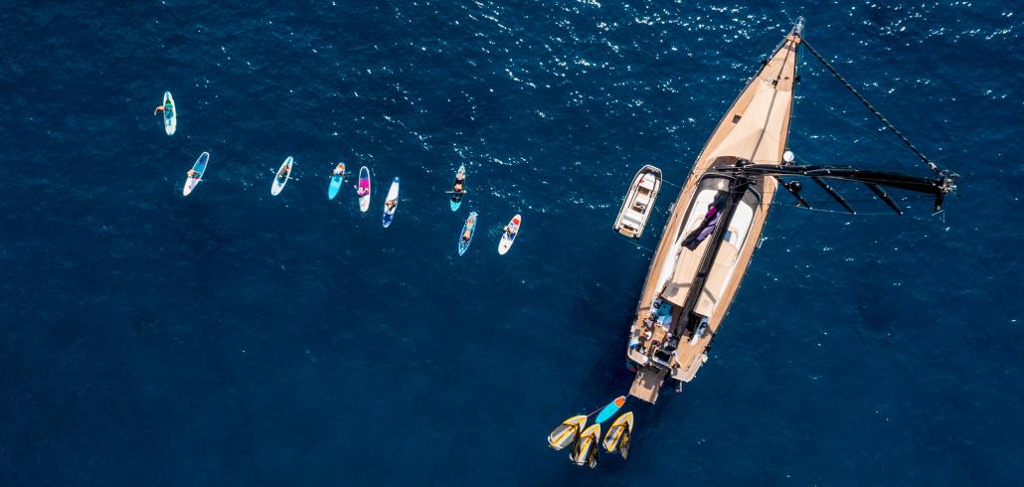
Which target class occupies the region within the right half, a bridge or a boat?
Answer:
boat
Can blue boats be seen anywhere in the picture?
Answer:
No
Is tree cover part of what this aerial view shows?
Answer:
No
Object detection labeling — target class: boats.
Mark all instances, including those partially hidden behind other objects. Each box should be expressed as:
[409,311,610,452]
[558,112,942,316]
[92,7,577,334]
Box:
[549,416,588,462]
[627,15,977,403]
[603,412,634,460]
[572,424,601,472]
[614,164,662,240]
